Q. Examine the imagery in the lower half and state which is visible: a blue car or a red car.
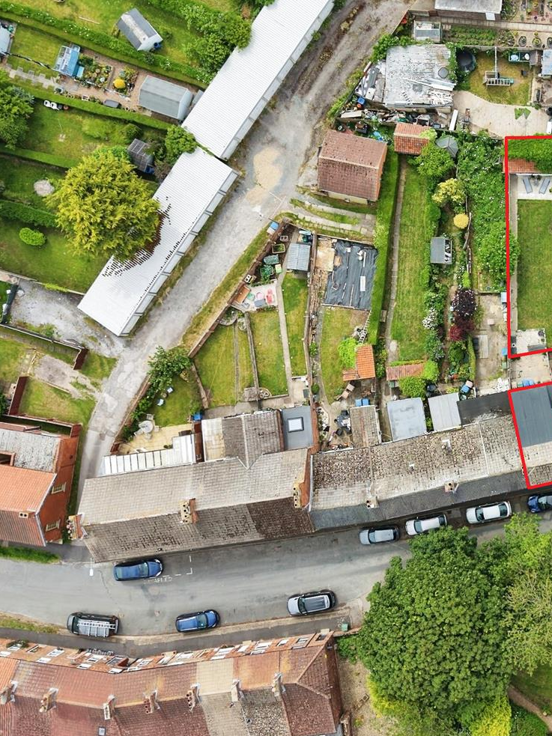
blue car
